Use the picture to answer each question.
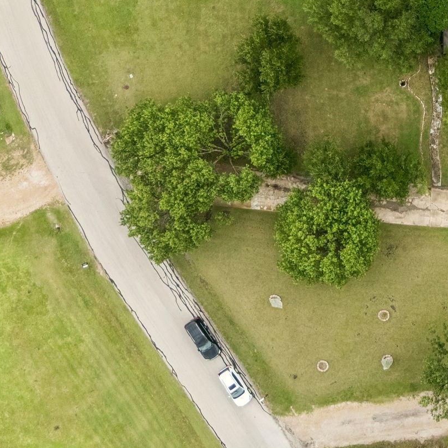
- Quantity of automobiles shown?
2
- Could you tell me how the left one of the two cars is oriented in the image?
at an angle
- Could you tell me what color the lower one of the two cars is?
white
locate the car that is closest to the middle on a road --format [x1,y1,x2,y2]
[183,316,221,359]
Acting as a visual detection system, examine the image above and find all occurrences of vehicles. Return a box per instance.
[183,316,221,359]
[217,363,250,406]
